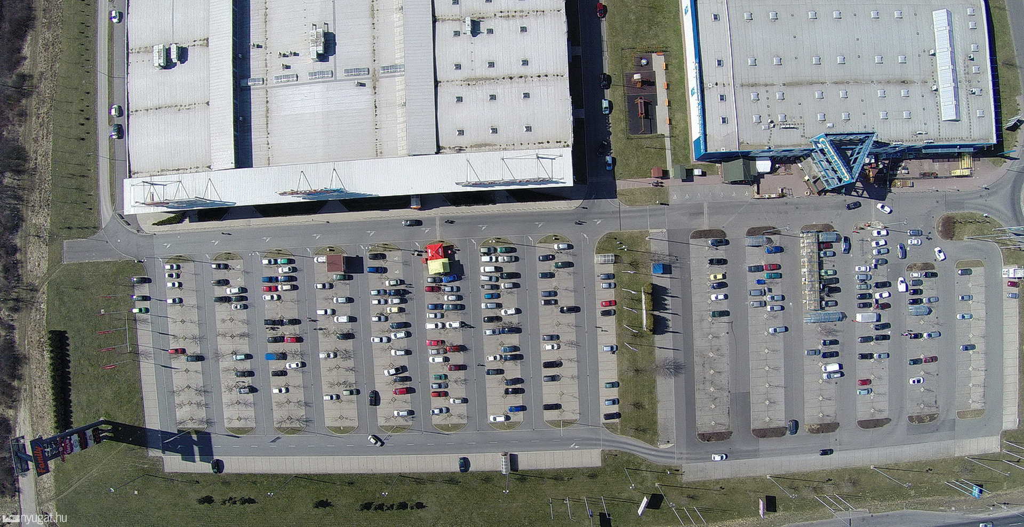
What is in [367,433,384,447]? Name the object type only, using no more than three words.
car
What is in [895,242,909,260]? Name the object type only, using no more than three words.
vehicle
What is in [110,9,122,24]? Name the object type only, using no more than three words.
vehicle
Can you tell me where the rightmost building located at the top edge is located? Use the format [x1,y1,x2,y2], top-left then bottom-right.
[679,0,996,163]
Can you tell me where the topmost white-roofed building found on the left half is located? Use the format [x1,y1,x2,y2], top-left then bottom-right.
[123,0,574,215]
